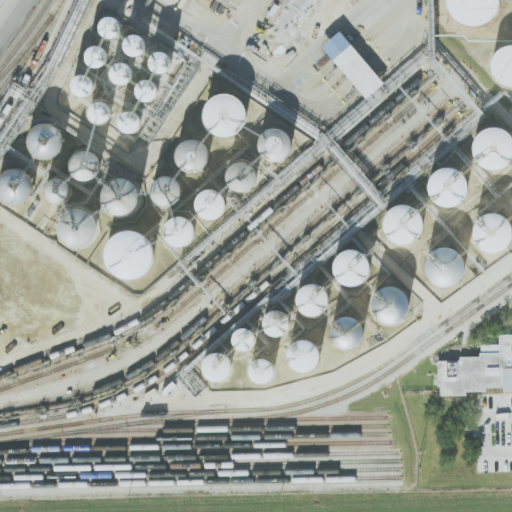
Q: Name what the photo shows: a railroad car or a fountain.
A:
railroad car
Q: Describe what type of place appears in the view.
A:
industrial area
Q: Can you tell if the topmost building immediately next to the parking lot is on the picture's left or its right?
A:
right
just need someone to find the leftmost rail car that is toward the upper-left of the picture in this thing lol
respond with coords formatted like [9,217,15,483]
[30,36,48,70]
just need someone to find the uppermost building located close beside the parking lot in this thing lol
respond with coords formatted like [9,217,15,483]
[437,334,512,396]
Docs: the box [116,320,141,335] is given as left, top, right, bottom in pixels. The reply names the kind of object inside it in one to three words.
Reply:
rail car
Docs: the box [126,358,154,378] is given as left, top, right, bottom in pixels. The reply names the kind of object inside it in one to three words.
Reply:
rail car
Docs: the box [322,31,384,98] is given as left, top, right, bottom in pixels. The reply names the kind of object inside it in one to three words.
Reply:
shed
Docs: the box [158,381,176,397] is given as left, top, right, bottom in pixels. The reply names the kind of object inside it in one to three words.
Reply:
vehicle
